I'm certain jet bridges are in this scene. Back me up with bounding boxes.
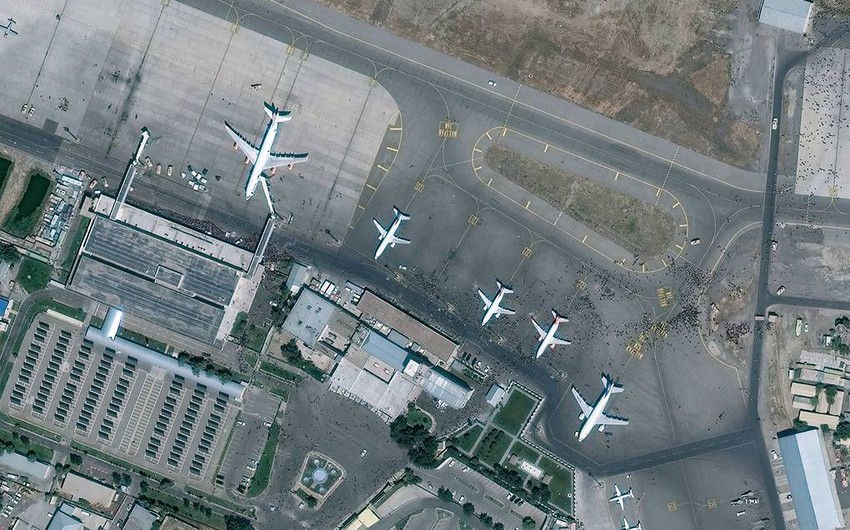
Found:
[110,129,151,219]
[246,174,277,277]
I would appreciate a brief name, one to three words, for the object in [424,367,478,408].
building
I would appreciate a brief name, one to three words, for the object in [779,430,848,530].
hangar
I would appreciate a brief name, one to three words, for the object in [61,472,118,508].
house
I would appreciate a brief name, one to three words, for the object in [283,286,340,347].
building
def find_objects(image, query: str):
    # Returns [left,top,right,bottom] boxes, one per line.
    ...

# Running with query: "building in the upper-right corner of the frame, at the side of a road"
[759,0,813,32]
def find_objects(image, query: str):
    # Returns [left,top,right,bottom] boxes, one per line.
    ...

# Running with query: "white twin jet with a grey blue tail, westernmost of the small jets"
[374,208,411,259]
